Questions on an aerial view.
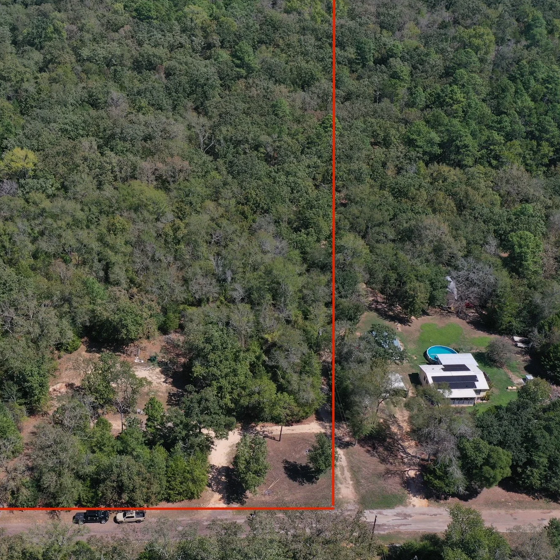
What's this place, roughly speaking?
forest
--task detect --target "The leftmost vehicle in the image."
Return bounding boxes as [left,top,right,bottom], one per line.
[72,508,108,525]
